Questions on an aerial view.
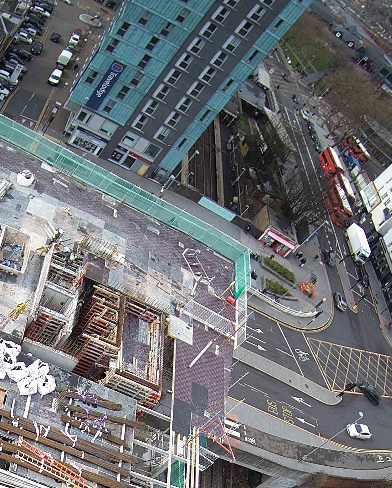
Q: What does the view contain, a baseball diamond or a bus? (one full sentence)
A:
Looking from above, you can make out a bus.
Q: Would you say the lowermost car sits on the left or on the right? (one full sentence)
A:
The lowermost car appears in the right half of the scene.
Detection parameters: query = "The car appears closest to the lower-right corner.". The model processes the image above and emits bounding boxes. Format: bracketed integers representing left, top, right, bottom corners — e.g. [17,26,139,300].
[348,420,376,441]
